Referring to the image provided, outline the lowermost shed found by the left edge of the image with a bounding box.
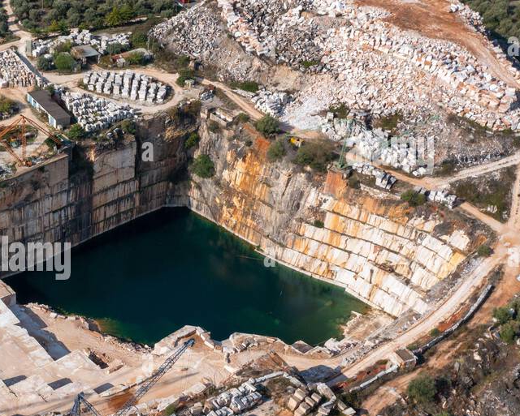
[23,93,76,128]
